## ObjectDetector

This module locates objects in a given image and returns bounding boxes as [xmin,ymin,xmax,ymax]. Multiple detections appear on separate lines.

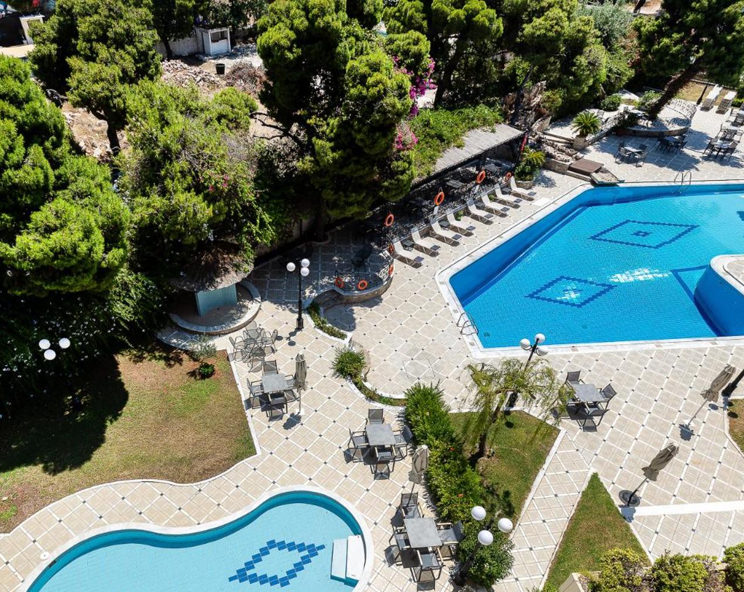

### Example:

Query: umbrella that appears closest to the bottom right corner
[617,444,676,512]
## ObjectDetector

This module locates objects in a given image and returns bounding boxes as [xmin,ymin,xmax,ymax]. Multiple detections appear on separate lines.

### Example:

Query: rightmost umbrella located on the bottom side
[680,370,740,432]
